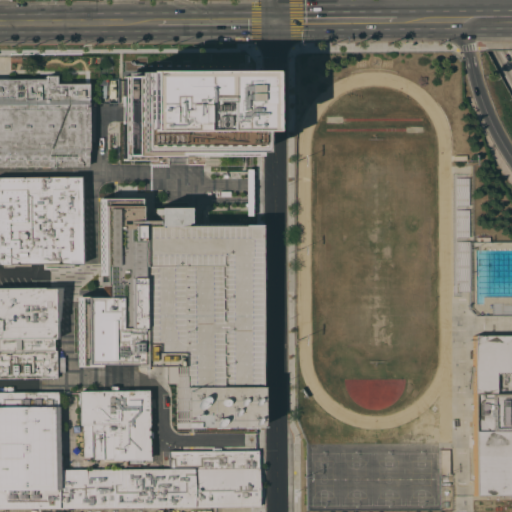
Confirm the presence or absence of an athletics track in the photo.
Yes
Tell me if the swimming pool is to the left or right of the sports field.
on the right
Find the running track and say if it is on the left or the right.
right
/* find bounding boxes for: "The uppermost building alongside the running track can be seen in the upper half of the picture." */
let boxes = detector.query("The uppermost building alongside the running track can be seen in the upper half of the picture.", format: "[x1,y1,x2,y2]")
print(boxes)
[125,70,285,158]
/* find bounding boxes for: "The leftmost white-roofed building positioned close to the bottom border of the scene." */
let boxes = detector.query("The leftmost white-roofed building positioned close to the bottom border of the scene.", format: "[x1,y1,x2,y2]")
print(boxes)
[0,392,62,510]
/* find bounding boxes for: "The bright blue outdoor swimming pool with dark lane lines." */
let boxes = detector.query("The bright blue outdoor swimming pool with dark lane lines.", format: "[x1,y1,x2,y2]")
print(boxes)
[476,250,512,304]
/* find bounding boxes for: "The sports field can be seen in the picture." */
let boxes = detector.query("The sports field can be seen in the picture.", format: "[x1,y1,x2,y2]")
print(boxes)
[312,86,438,414]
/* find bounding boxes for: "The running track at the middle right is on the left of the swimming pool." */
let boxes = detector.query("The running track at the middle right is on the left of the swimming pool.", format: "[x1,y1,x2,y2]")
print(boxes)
[298,72,453,428]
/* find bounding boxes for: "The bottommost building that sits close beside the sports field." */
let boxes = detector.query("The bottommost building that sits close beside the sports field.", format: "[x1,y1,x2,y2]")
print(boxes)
[60,451,261,510]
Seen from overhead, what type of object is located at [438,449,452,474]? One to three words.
building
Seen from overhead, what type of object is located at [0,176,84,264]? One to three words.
building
